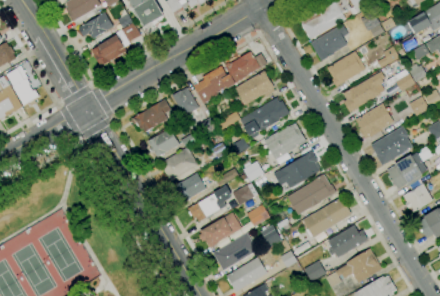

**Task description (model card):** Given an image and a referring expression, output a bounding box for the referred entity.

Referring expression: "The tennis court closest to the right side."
[39,228,84,282]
